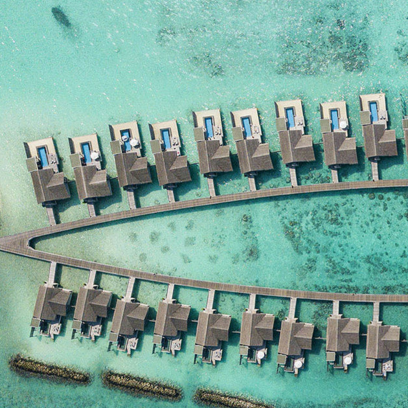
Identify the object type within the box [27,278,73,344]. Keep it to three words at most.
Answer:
house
